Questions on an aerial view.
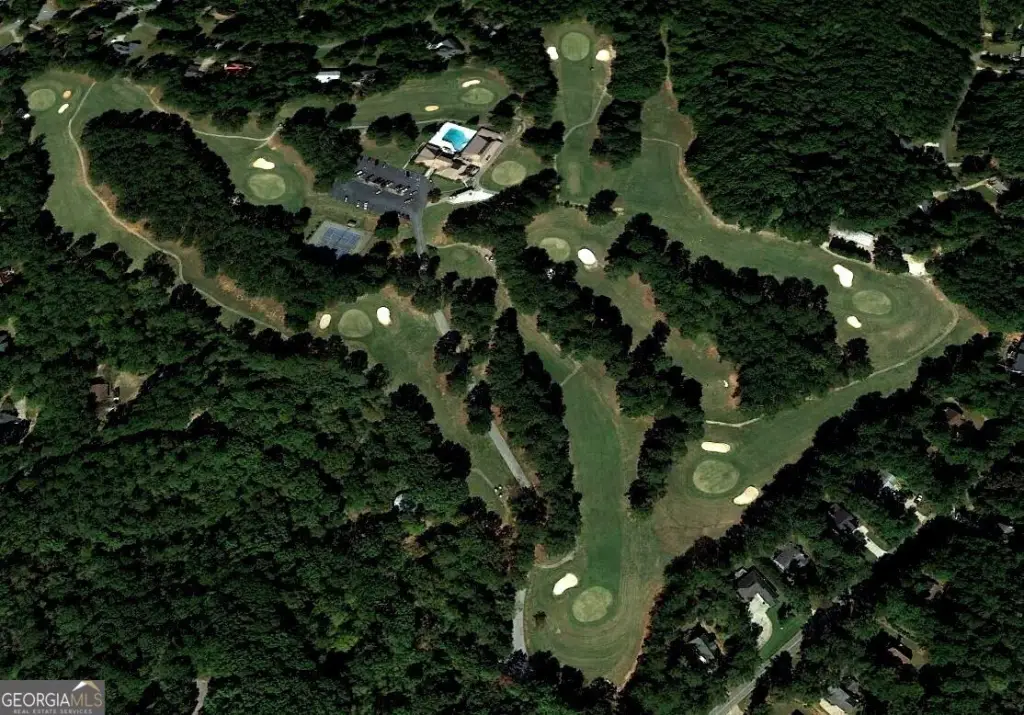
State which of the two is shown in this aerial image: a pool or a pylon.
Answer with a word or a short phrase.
pool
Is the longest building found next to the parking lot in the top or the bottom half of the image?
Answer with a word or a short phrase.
top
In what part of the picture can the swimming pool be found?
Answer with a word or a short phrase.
top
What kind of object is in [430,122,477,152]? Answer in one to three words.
swimming pool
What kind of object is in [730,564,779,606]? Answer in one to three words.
house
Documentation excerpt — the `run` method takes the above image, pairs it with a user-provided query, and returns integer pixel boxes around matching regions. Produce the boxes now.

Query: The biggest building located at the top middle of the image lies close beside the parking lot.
[418,131,506,182]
